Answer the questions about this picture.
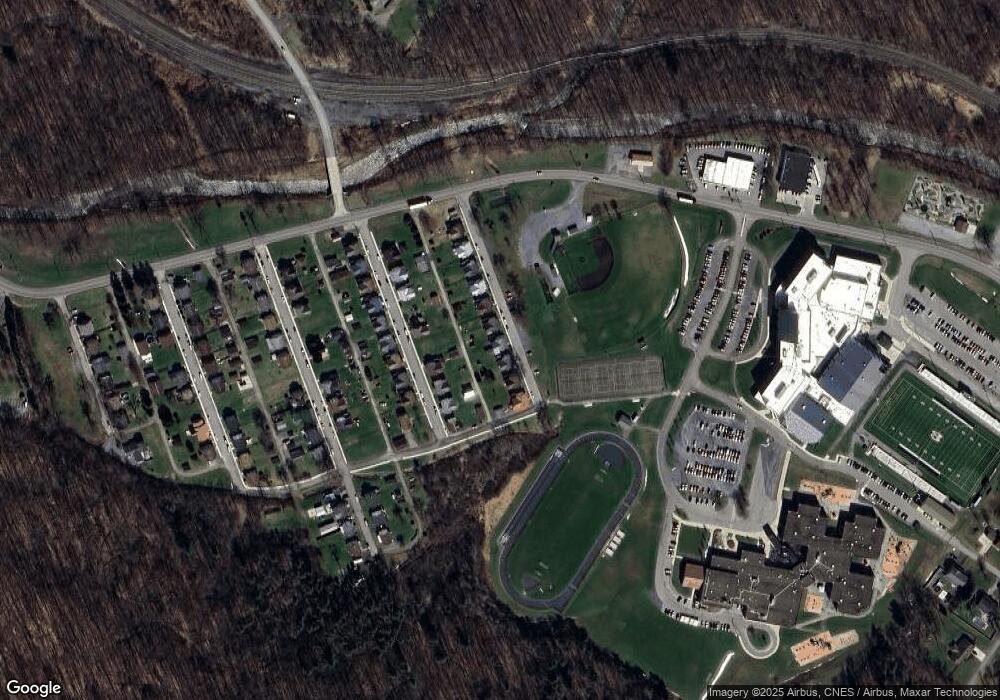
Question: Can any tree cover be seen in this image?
Yes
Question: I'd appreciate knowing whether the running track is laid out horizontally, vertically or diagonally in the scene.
diagonally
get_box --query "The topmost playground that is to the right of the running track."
[800,481,857,503]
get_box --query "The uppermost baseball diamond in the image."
[554,226,632,303]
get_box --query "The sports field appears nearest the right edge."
[858,364,1000,513]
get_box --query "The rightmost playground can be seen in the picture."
[883,537,913,579]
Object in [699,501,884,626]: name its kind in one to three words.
building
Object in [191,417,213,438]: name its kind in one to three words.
house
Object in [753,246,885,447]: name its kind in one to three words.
building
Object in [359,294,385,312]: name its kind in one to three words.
house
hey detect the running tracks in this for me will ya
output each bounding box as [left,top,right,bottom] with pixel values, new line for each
[494,429,642,615]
